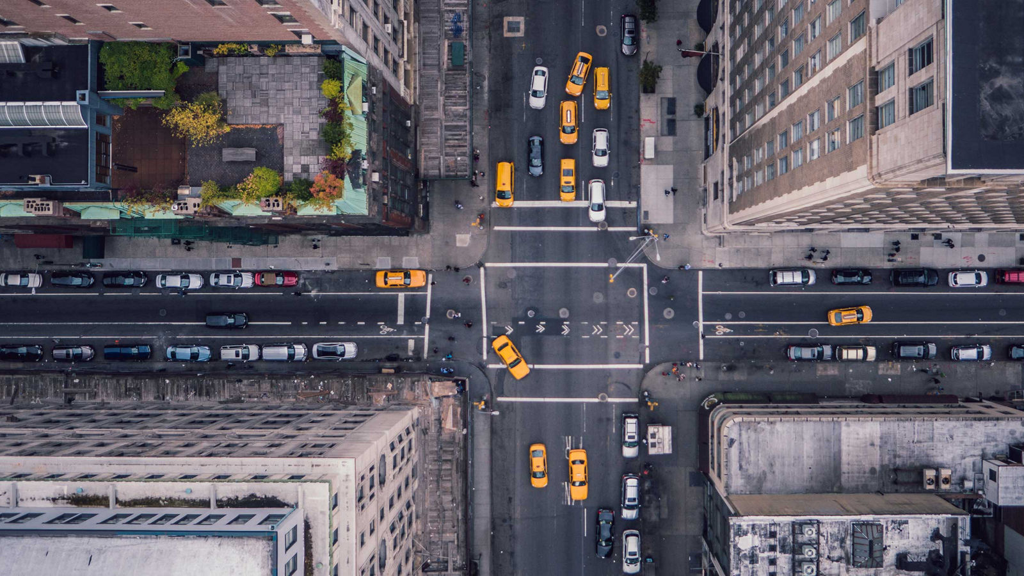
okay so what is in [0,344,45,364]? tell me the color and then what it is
black car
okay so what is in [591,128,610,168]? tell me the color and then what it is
white car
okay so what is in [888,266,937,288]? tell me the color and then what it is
black car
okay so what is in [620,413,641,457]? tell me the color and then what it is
white car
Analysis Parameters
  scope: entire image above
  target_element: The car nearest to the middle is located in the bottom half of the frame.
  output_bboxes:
[493,333,529,381]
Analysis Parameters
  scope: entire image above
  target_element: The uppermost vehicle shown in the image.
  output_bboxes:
[619,14,639,57]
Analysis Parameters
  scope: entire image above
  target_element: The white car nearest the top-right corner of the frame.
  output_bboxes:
[946,269,987,289]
